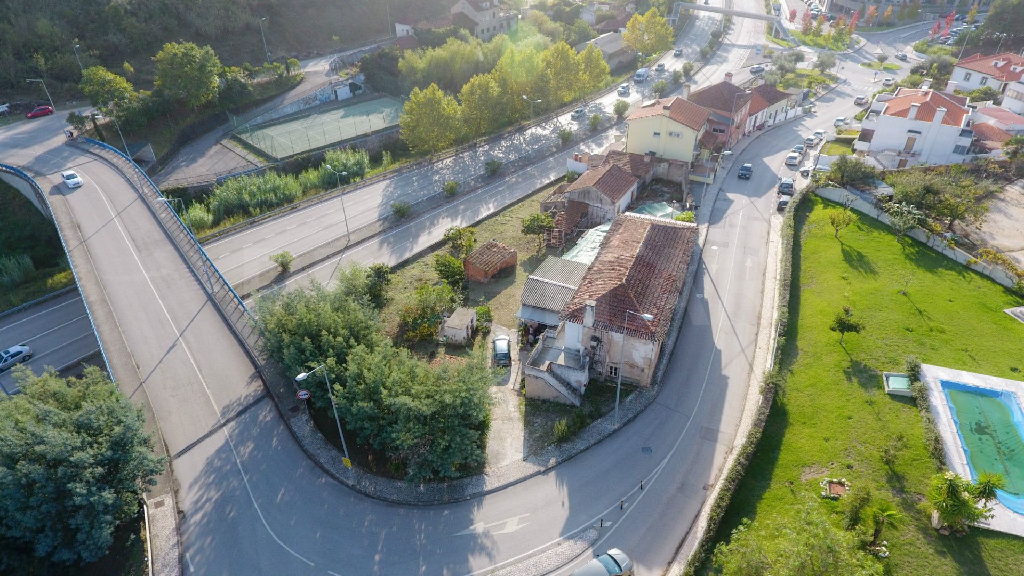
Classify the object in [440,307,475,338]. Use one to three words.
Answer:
shed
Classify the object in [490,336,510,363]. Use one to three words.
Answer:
car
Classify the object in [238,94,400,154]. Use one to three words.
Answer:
sports court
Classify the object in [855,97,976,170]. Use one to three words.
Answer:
house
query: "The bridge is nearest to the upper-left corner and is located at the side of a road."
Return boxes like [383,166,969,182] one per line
[0,120,263,392]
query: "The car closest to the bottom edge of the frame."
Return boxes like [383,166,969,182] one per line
[570,546,636,576]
